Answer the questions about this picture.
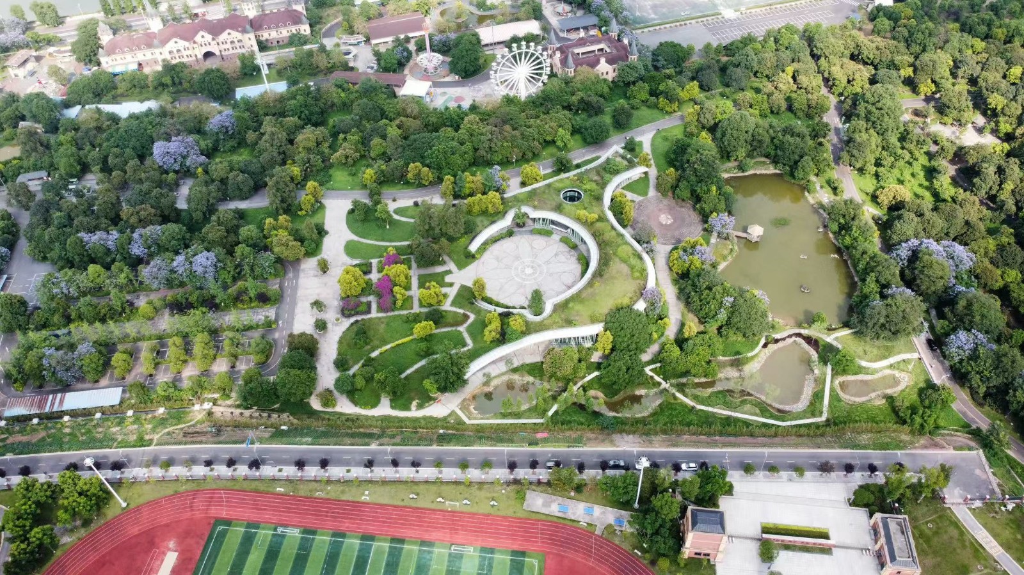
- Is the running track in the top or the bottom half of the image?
bottom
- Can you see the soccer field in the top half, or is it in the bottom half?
bottom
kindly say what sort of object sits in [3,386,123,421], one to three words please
shed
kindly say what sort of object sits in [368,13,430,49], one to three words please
shed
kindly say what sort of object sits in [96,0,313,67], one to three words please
building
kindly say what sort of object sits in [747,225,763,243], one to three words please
gazebo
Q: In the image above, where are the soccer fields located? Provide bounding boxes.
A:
[194,520,545,575]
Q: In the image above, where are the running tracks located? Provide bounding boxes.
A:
[43,489,654,575]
